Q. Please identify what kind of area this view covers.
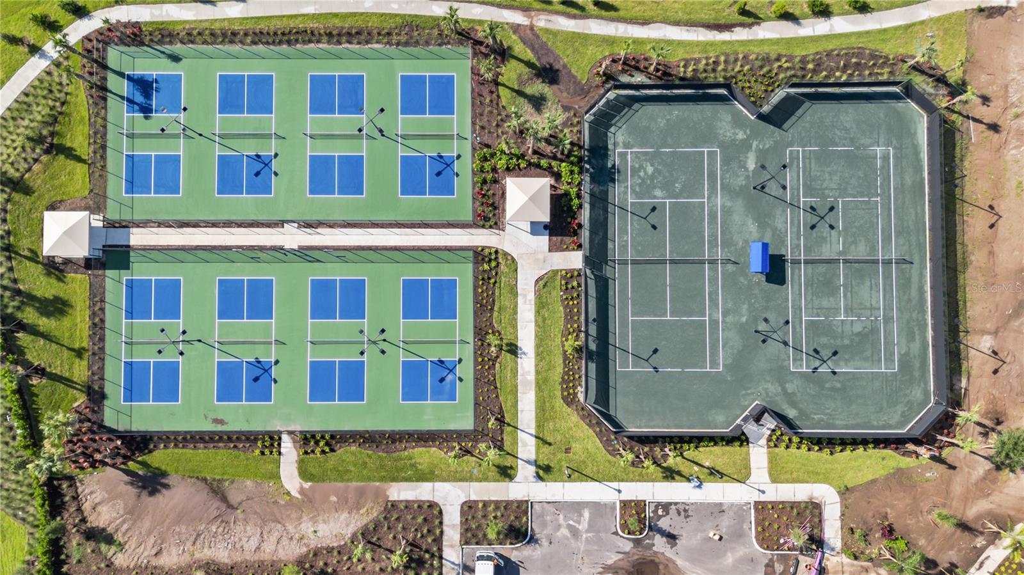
sports ground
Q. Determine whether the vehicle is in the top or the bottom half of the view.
bottom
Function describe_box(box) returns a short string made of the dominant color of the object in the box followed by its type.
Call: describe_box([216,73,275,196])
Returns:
blue sports court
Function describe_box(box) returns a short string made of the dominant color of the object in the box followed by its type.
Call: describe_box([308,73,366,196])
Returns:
blue sports court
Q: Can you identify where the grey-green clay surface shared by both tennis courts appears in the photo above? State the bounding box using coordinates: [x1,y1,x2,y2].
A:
[583,86,935,432]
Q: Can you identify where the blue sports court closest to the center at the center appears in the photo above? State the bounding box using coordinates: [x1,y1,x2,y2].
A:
[400,277,458,403]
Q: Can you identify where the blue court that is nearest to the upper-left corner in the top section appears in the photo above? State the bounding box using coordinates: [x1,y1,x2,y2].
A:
[123,73,183,196]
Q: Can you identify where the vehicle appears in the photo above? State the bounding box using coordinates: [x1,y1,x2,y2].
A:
[475,549,504,575]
